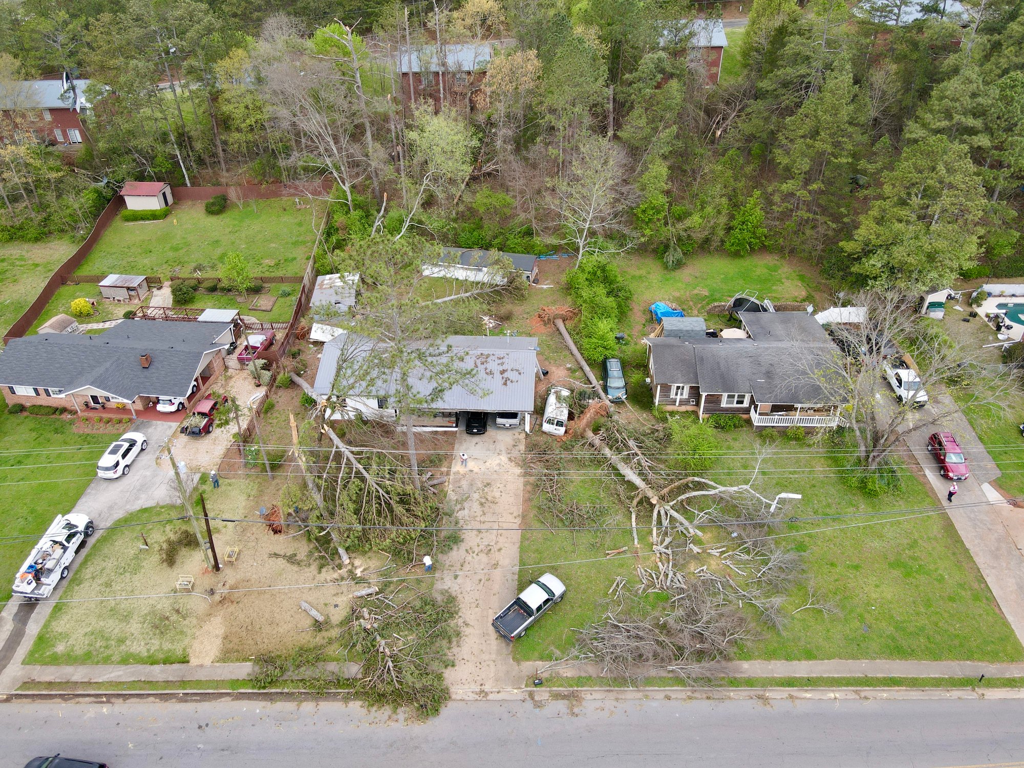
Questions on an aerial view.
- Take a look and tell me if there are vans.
Yes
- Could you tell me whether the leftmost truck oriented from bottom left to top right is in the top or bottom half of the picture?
bottom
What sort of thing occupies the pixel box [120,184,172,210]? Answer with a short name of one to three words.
shed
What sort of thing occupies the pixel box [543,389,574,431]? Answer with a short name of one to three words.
van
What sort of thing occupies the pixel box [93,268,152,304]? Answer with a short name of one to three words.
shed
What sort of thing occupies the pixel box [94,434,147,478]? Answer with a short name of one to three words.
car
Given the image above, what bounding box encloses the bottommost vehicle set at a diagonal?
[491,570,570,641]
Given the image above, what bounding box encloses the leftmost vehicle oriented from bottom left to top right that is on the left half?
[13,503,96,592]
